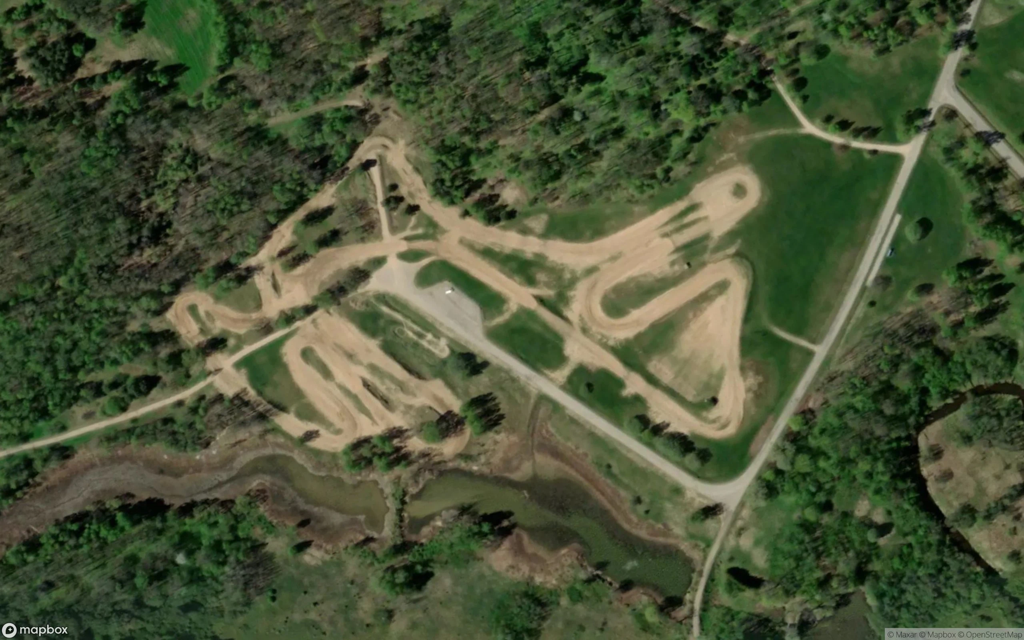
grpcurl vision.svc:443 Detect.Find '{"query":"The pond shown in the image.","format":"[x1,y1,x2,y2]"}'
[238,454,694,605]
